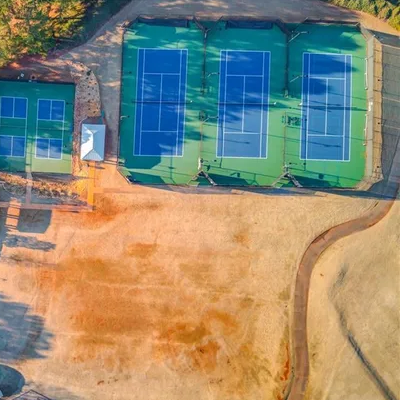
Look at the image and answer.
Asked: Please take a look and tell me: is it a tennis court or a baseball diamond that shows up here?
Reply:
tennis court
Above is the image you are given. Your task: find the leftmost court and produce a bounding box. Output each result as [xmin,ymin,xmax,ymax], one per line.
[0,82,32,172]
